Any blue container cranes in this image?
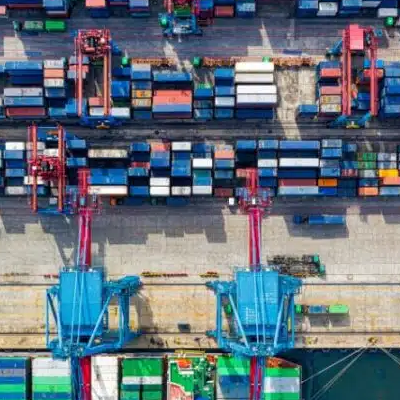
Yes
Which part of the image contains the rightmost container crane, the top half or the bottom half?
top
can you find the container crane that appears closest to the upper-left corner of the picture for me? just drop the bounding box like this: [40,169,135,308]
[76,28,122,129]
